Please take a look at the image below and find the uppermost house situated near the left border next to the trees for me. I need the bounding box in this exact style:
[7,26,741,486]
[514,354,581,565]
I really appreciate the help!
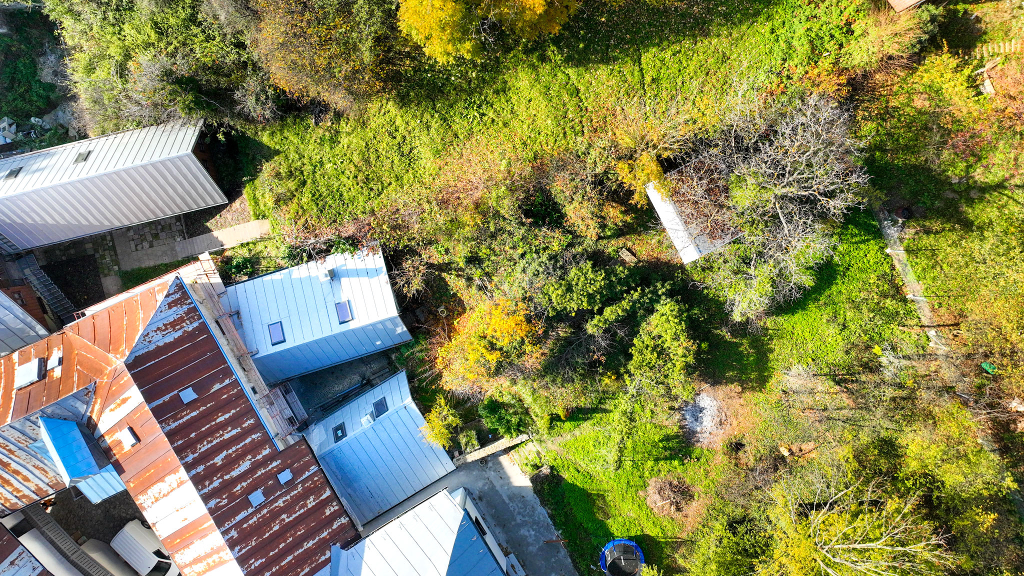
[0,118,237,252]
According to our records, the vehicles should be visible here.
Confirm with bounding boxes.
[87,533,139,576]
[118,523,180,576]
